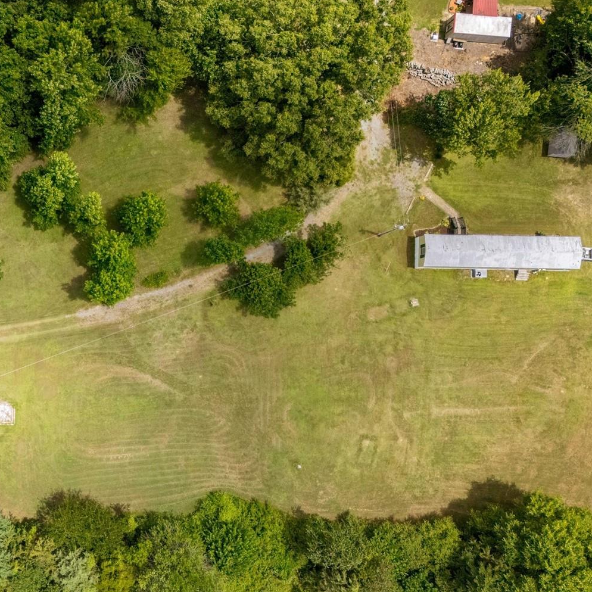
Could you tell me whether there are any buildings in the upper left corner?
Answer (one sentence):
No, no building is visible in the upper left corner.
